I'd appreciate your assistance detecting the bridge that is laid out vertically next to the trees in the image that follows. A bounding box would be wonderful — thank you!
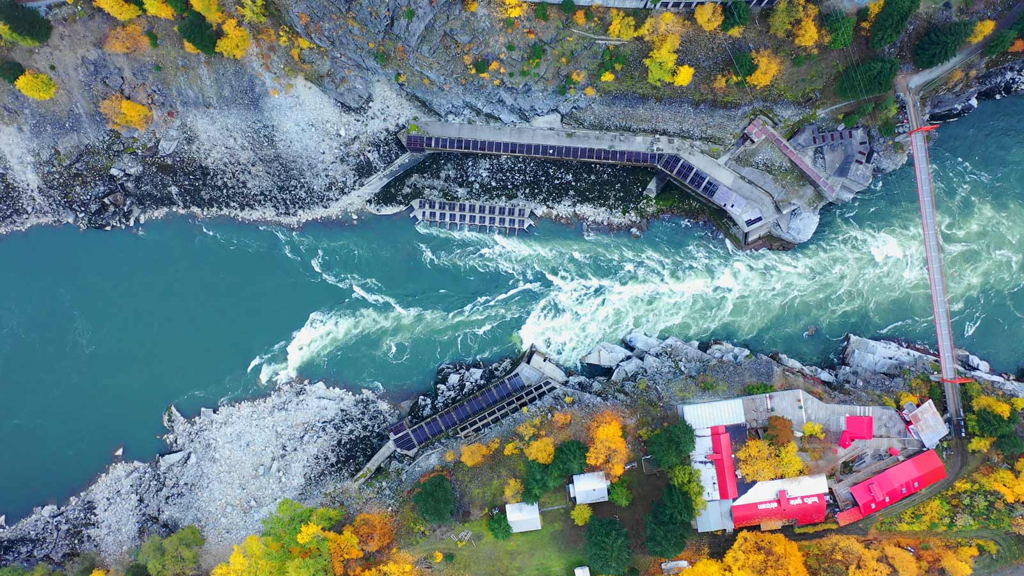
[889,90,975,419]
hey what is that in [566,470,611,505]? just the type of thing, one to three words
shed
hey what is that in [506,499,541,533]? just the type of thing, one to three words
shed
